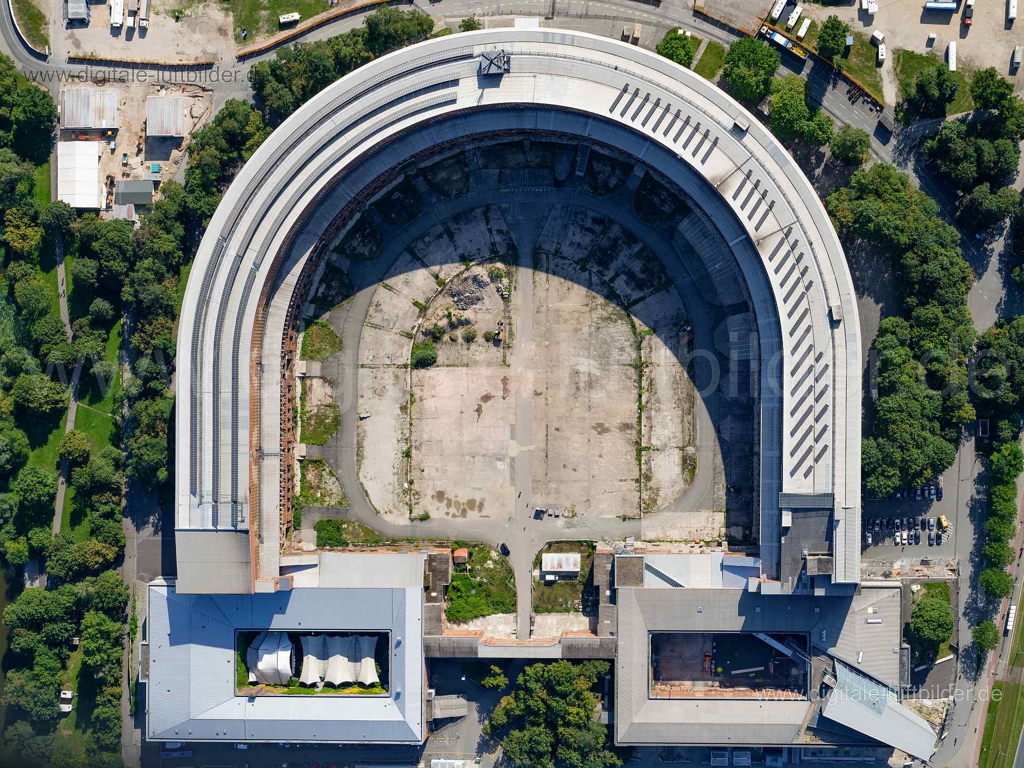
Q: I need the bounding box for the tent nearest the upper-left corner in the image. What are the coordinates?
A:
[57,140,102,209]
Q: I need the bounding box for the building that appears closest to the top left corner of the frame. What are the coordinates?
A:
[61,88,122,130]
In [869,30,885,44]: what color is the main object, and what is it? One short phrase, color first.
white camper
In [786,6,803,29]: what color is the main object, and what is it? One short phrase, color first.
white camper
